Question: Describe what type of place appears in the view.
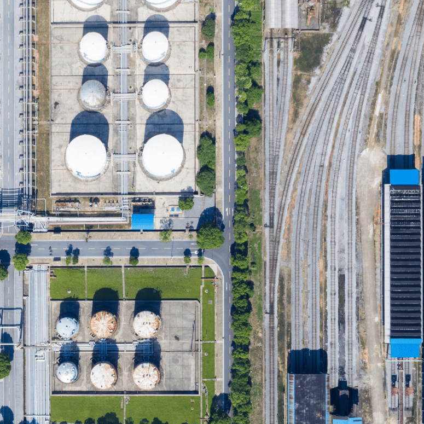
industrial area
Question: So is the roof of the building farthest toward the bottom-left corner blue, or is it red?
blue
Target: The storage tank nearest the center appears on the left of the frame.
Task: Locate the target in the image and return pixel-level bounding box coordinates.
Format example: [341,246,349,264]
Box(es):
[140,134,184,179]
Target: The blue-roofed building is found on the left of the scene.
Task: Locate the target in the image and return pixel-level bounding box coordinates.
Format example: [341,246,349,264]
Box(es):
[131,209,154,230]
